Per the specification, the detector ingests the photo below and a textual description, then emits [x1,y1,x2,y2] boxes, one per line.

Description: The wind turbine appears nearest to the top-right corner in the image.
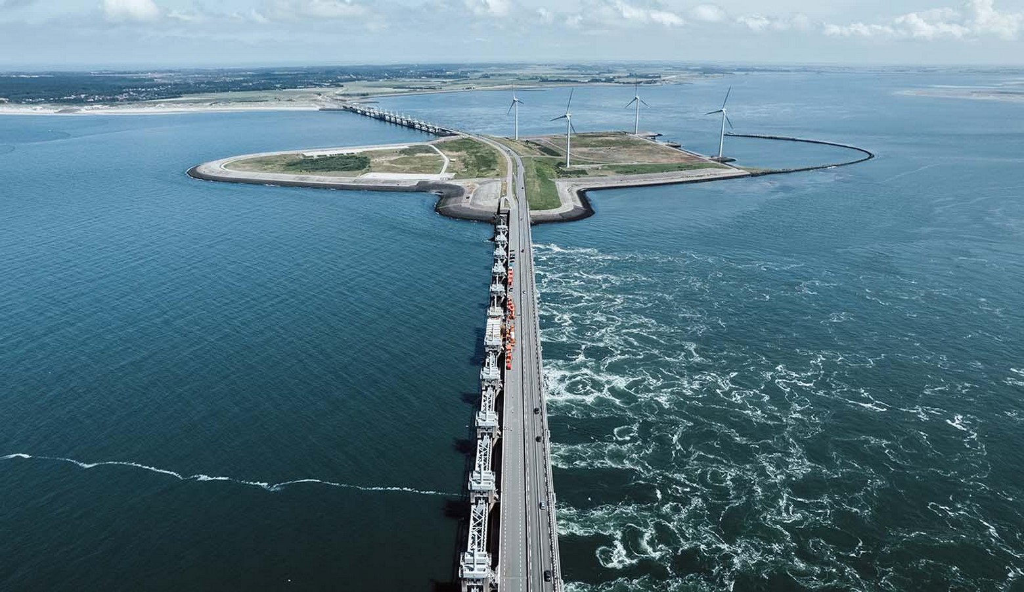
[704,88,733,159]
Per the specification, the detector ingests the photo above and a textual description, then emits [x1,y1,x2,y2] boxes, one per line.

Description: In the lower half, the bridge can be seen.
[498,204,562,592]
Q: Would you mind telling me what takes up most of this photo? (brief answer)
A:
water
